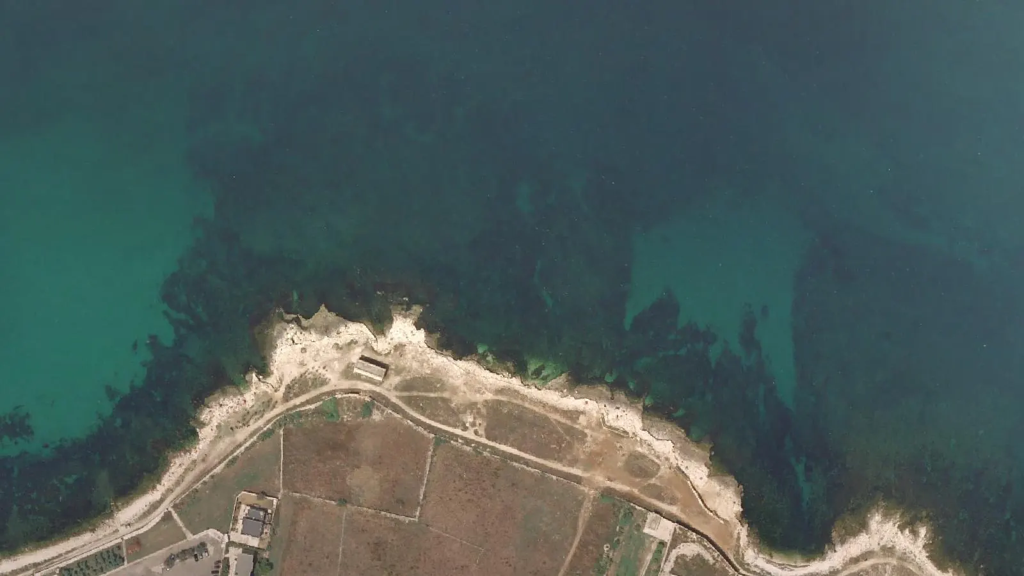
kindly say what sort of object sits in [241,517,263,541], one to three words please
house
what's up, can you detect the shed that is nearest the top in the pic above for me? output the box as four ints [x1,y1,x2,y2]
[354,360,386,382]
